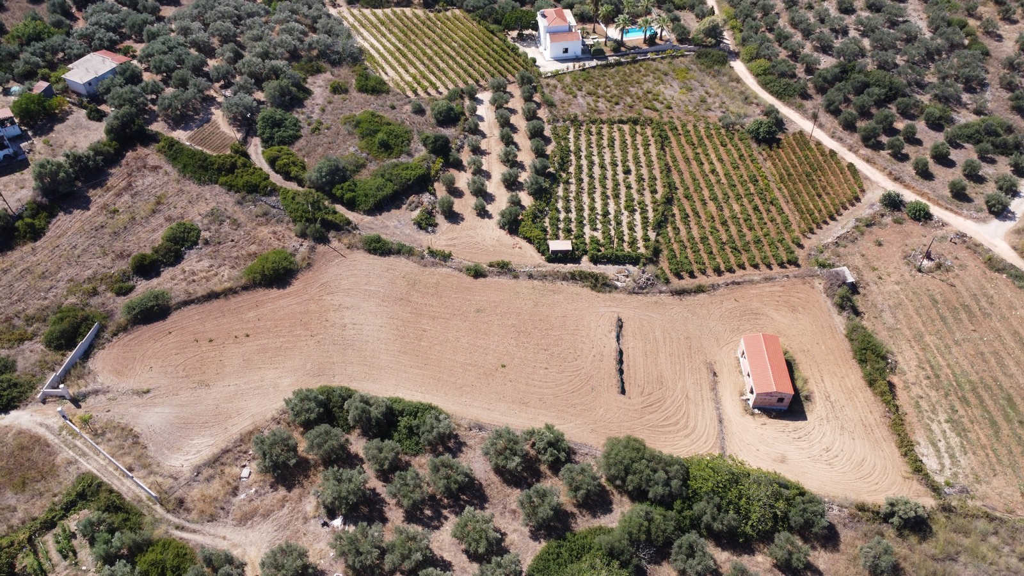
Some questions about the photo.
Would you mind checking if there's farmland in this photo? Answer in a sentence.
Yes, there's farmland in this view.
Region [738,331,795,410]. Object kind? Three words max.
building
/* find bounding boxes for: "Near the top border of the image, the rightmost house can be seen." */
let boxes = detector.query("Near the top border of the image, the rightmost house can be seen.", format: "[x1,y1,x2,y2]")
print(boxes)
[530,8,584,58]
